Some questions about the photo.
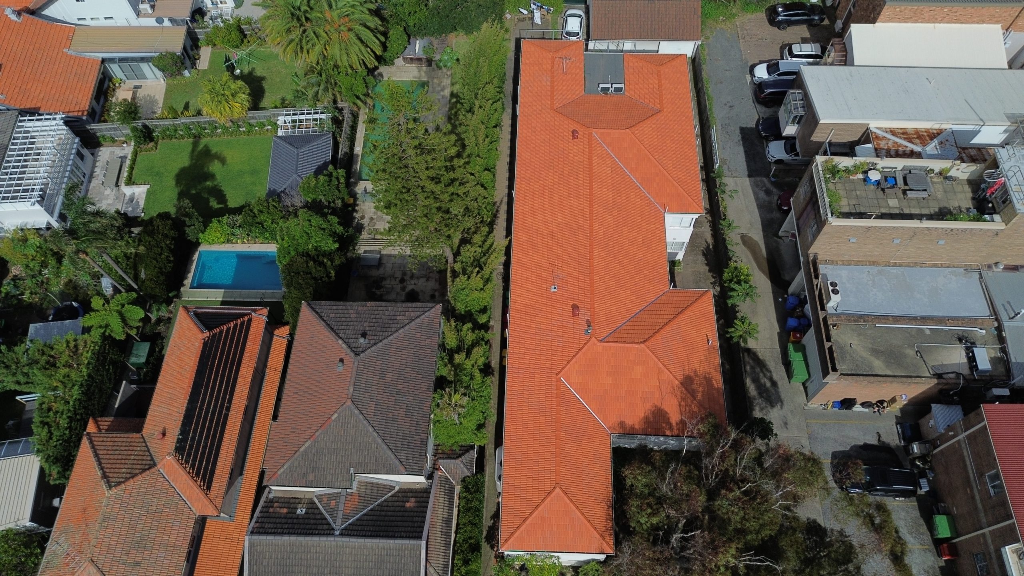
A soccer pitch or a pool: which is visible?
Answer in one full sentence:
Visible in the photo is a pool.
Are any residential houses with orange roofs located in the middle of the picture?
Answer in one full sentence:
Yes, a residential house with an orange roof shows up in the middle of the picture.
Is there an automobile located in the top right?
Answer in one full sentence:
Yes, looking in the top right, one can make out an automobile.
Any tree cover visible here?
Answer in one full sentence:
Yes, the picture does contain tree cover.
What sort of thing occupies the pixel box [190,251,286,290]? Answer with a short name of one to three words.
swimming pool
